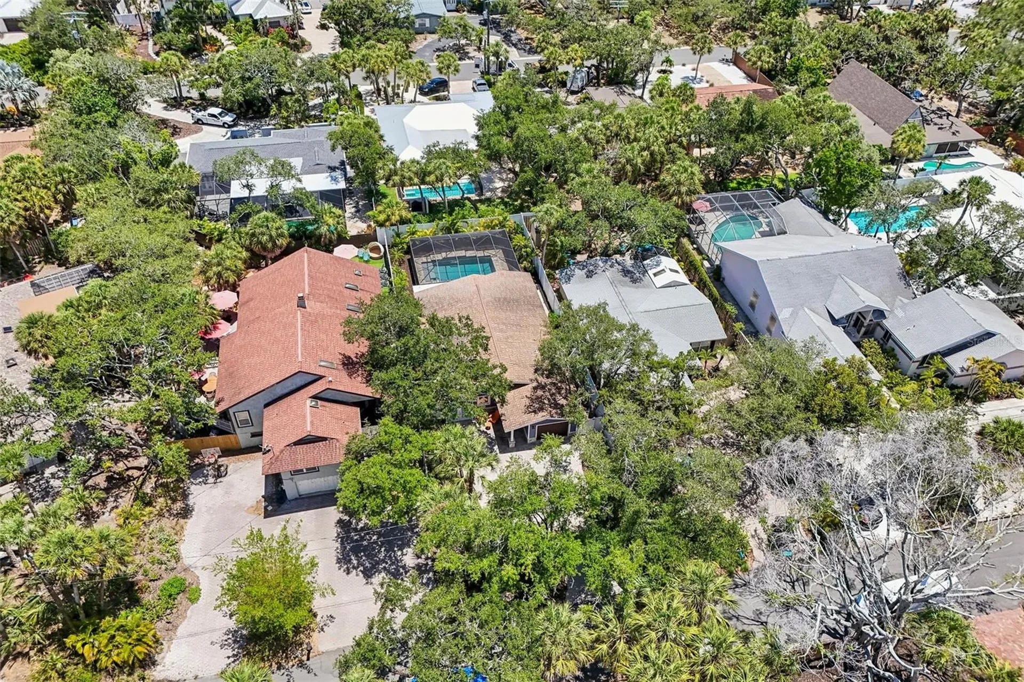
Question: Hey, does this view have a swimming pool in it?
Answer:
Yes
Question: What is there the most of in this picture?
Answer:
trees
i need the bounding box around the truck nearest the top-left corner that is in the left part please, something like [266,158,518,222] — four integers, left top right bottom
[190,103,237,127]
